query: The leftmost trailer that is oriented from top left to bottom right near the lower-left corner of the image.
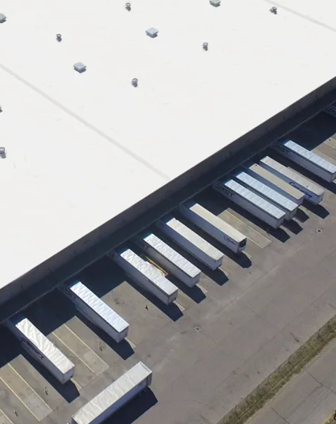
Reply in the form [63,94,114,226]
[1,310,74,386]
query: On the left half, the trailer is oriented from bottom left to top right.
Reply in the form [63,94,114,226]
[71,361,152,424]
